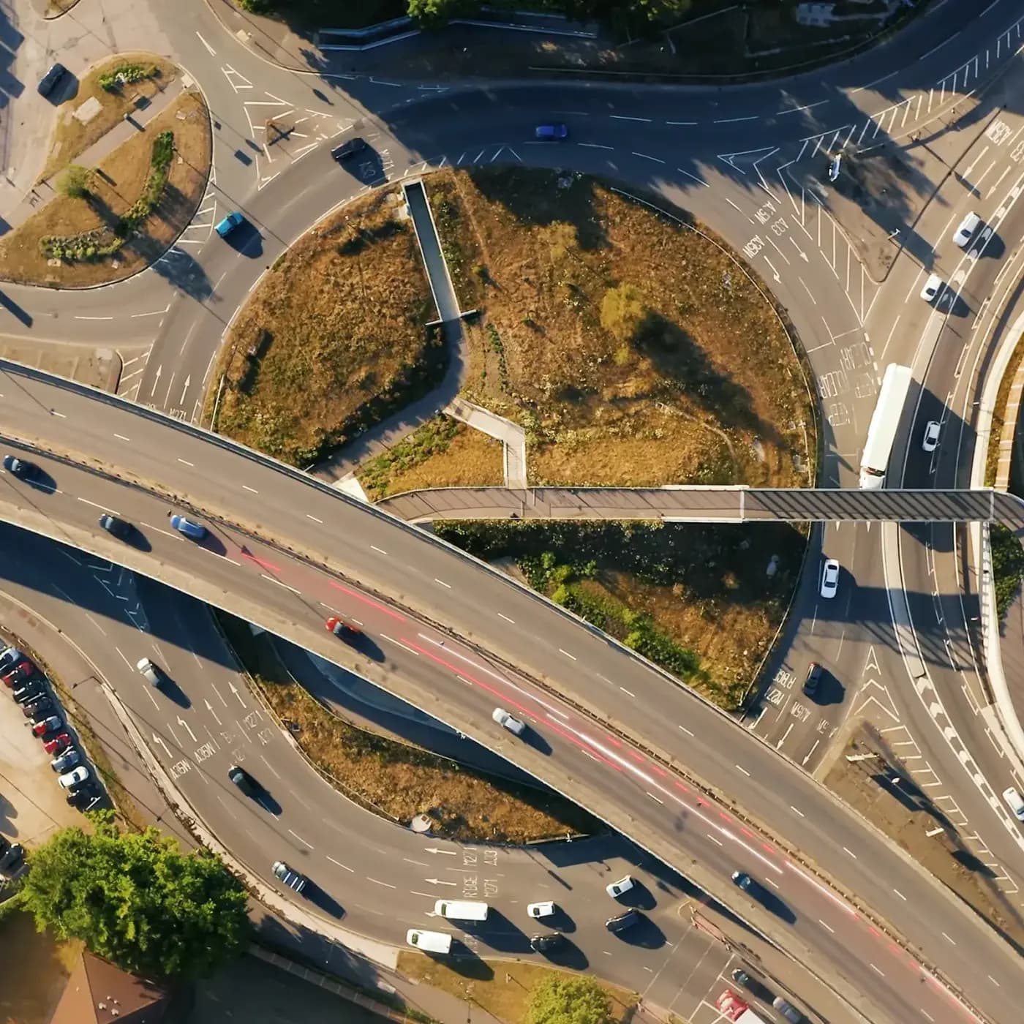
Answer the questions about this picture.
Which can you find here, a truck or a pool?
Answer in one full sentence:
This aerial view contains a truck.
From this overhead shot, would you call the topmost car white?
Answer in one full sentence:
No, from above the topmost car looks black.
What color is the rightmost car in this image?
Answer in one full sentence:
From above, the rightmost car appears white.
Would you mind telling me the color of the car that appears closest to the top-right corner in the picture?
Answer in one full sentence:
The car that appears closest to the top-right corner is white.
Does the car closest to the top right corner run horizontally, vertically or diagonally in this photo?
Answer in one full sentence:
In this picture, the car closest to the top right corner is oriented diagonally.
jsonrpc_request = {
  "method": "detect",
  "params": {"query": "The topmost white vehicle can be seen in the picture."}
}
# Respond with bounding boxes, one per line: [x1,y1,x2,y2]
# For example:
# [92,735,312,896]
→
[952,210,983,247]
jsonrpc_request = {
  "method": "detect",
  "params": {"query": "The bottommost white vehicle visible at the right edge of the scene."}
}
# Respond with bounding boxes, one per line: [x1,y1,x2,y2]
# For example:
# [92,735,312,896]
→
[1001,786,1024,822]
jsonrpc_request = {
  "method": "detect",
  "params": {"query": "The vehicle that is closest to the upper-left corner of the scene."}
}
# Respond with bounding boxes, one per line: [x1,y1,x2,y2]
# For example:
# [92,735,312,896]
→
[36,63,65,95]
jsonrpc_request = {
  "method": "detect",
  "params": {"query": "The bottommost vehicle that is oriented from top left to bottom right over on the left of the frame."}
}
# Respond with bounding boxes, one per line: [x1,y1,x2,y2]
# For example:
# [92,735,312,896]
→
[271,863,309,895]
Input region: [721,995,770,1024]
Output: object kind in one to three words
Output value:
truck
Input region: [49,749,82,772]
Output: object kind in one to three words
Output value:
car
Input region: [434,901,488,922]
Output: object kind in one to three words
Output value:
vehicle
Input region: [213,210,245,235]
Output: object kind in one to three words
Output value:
car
